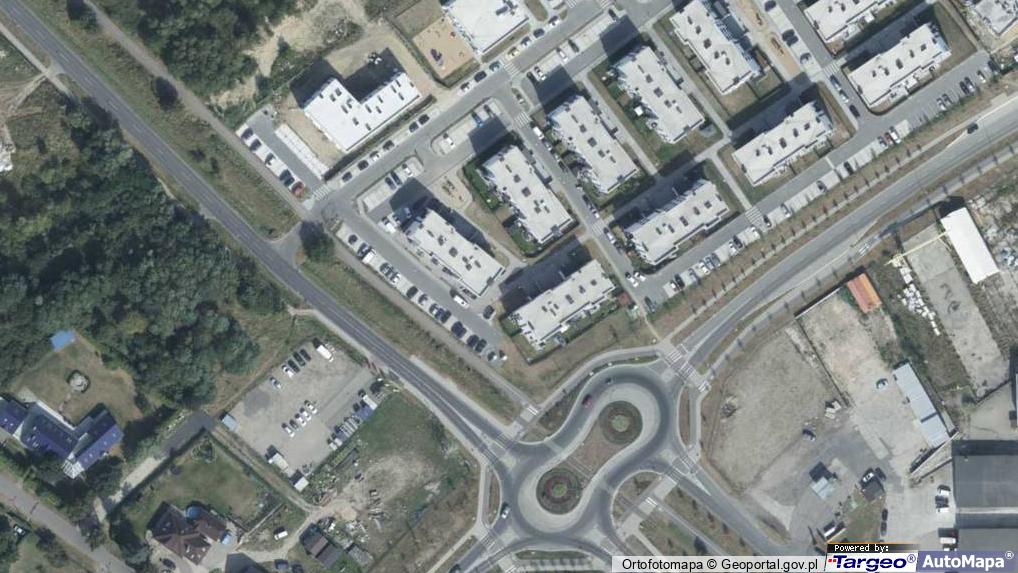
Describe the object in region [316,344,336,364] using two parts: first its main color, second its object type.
white vehicle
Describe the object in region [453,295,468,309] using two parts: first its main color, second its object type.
white vehicle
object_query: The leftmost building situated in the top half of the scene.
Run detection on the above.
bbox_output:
[302,70,420,151]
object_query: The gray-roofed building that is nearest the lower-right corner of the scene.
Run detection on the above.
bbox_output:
[953,440,1018,573]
